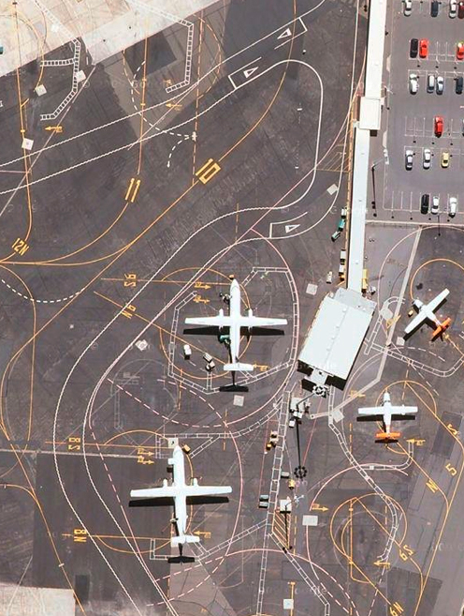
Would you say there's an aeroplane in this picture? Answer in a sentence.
Yes, this view includes an aeroplane.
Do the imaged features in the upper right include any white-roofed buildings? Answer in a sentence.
Yes, a white-roofed building shows up in the upper right.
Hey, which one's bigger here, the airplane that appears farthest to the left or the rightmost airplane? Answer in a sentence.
Of the two, the airplane that appears farthest to the left is bigger, while the rightmost airplane is smaller.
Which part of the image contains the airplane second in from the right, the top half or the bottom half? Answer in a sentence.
The airplane second in from the right is in the bottom half of the image.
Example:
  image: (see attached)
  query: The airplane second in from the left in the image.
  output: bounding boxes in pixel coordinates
[185,279,286,371]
